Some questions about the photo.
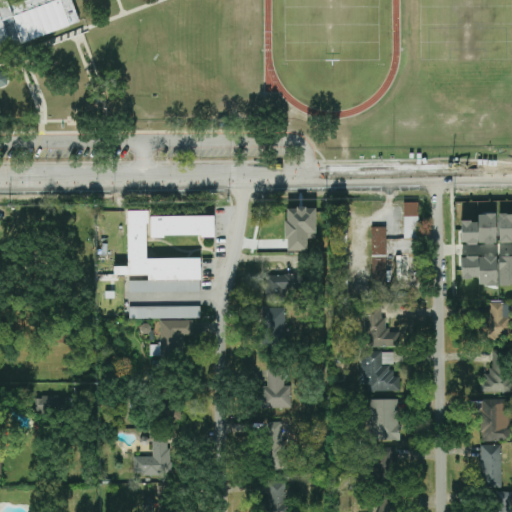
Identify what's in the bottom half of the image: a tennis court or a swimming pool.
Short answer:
swimming pool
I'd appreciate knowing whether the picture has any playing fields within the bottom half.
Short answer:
No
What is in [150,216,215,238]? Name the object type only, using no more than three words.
building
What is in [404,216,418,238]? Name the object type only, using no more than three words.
shed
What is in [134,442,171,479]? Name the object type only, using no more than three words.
house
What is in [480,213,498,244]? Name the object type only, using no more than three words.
house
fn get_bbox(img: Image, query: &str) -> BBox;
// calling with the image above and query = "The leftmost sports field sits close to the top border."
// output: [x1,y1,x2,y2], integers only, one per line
[285,0,380,60]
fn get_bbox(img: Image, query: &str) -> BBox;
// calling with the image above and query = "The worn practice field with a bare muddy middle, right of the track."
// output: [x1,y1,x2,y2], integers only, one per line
[421,0,512,60]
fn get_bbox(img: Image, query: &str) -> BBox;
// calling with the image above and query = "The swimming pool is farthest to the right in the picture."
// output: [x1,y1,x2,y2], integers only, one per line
[117,428,152,456]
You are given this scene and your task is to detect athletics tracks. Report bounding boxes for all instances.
[264,0,400,118]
